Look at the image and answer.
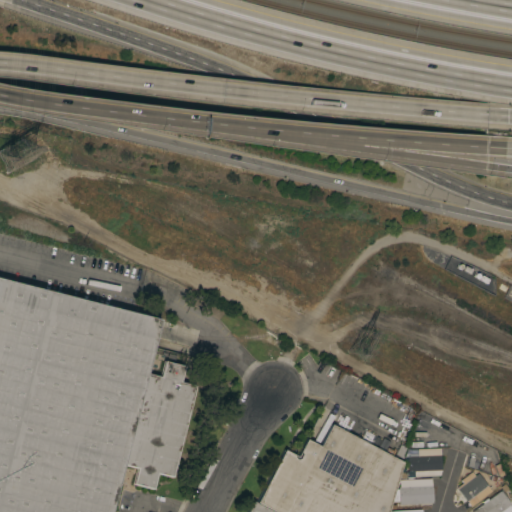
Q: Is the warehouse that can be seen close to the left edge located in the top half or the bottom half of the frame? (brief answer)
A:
bottom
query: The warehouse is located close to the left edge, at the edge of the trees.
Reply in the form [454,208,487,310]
[0,277,169,512]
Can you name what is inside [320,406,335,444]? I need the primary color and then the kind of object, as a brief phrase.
white vehicle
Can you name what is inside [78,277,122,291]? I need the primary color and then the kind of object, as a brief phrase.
white vehicle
